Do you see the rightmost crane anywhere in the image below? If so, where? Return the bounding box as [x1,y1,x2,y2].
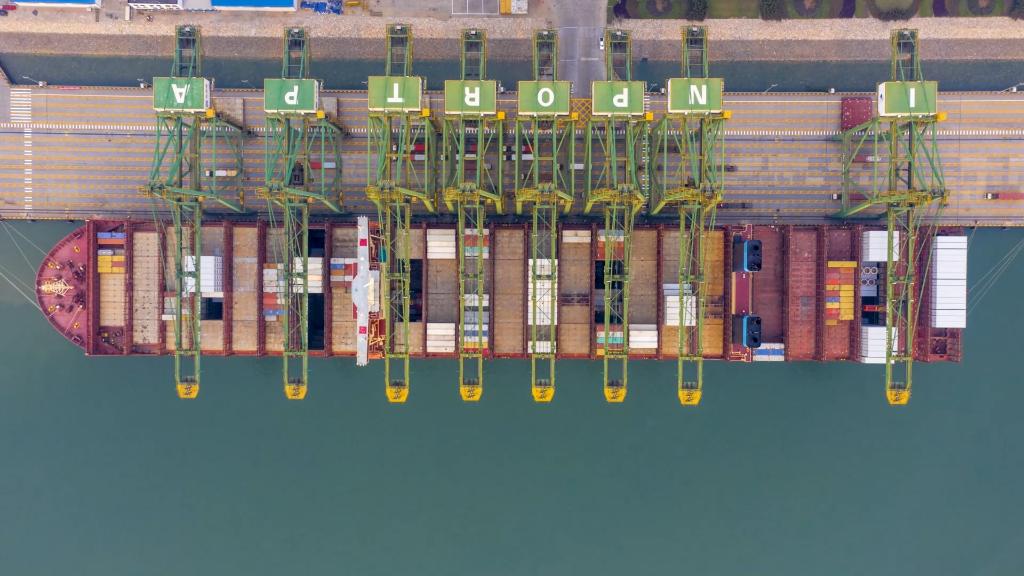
[829,29,948,404]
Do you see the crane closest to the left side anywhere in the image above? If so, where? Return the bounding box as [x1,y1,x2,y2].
[144,25,257,399]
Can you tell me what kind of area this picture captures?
port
